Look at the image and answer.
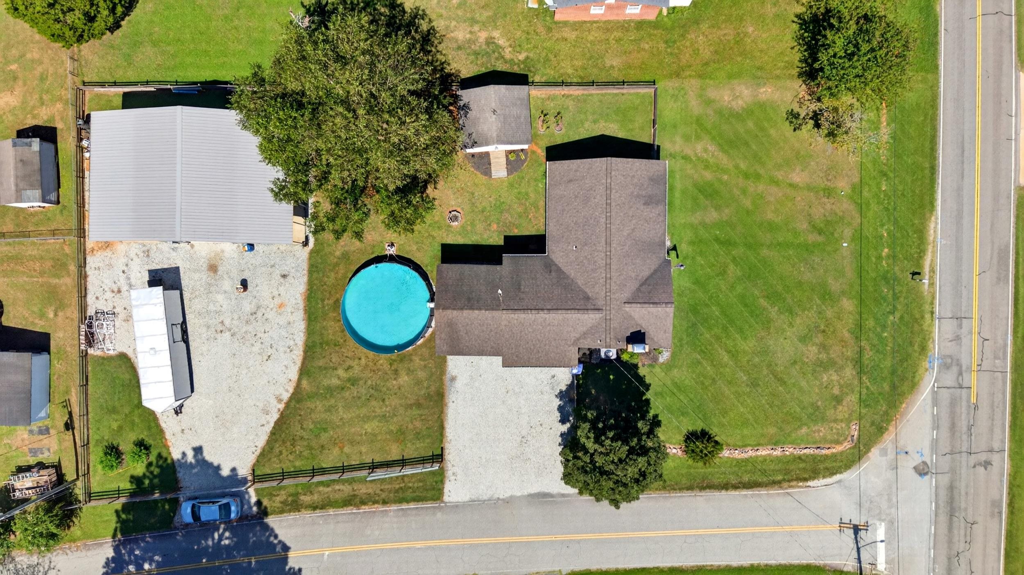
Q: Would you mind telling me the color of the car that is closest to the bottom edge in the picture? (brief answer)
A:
blue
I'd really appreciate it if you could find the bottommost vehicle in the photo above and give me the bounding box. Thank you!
[182,495,242,525]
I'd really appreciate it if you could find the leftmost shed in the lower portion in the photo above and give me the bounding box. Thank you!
[0,351,49,428]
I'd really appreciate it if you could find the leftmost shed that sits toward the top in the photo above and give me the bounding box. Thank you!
[0,137,56,206]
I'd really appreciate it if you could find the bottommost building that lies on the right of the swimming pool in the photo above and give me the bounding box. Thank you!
[433,158,674,368]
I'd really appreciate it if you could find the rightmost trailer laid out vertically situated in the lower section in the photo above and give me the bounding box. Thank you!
[130,286,187,424]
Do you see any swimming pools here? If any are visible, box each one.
[340,261,434,356]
